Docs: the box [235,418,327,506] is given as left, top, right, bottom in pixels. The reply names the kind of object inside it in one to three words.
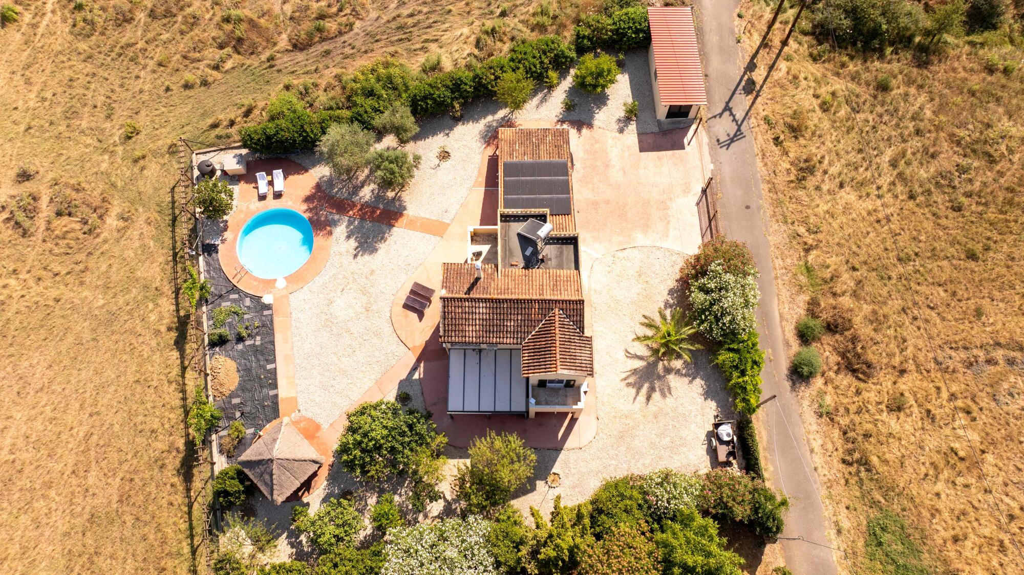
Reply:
gazebo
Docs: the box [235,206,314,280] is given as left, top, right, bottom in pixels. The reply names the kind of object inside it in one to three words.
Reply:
swimming pool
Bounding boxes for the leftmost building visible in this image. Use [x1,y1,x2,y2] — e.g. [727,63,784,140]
[220,148,246,175]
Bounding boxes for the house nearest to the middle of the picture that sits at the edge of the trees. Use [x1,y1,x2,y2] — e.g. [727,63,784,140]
[436,127,595,413]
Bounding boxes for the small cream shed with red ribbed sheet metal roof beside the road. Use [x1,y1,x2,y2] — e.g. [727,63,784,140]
[648,5,707,131]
